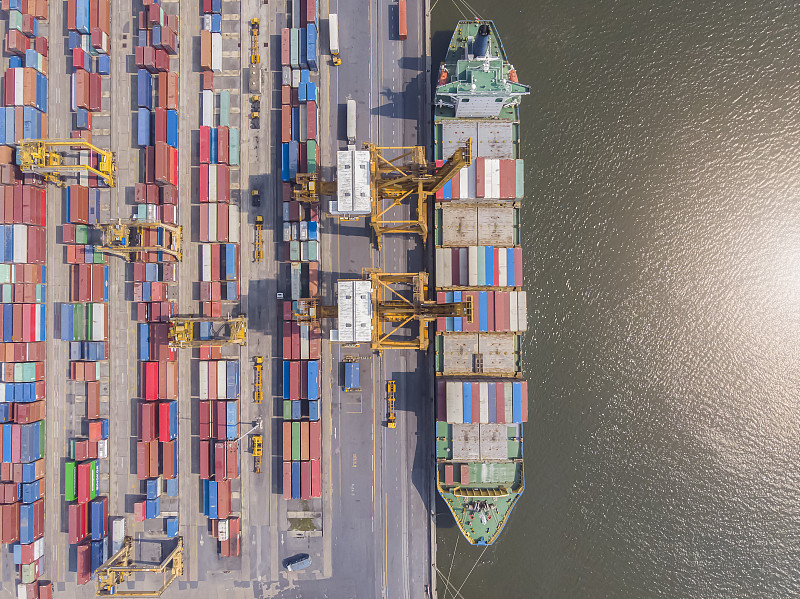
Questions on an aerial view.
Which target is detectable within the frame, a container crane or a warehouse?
container crane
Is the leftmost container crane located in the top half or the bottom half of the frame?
top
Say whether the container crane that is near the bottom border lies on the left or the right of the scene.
left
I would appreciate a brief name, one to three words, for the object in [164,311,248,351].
container crane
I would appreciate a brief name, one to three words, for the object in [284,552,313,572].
vehicle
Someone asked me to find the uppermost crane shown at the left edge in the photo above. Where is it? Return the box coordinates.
[15,134,117,189]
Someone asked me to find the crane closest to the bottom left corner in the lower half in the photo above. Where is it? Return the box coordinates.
[93,535,184,599]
